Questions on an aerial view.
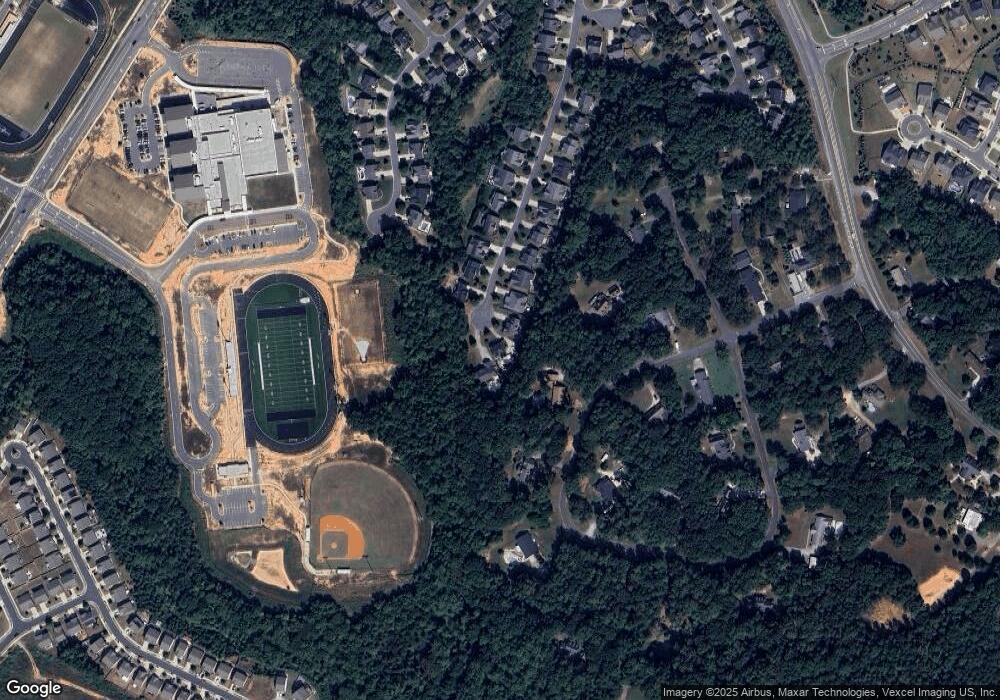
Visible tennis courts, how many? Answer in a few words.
none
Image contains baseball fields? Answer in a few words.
Yes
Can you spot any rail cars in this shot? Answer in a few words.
No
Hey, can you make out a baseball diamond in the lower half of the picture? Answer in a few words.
Yes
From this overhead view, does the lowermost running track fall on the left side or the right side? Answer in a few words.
left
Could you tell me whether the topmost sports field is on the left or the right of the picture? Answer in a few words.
left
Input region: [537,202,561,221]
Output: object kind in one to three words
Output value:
house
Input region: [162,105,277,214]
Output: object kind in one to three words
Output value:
building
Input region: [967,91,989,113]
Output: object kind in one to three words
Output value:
house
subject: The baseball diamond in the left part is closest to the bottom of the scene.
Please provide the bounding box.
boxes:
[310,460,416,570]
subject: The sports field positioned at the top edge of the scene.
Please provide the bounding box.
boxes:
[0,0,98,144]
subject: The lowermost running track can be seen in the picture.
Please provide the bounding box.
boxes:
[233,273,338,453]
